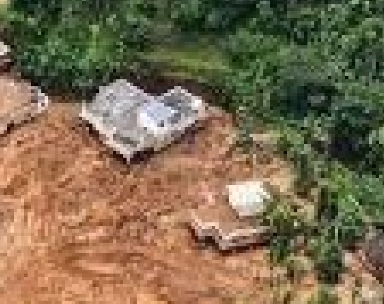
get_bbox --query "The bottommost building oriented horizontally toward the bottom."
[189,201,271,248]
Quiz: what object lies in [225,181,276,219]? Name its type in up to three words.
shed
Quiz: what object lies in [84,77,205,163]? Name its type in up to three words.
house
